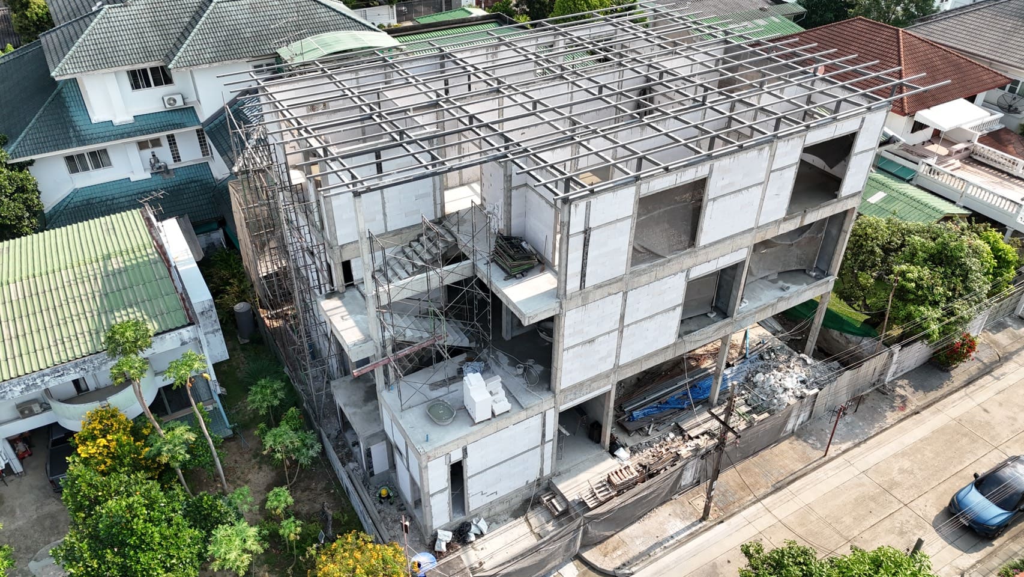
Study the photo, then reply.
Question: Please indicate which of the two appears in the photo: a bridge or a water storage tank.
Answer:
water storage tank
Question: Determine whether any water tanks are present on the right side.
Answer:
No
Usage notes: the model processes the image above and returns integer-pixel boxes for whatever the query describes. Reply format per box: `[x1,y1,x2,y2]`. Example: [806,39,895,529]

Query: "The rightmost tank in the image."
[230,299,263,355]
